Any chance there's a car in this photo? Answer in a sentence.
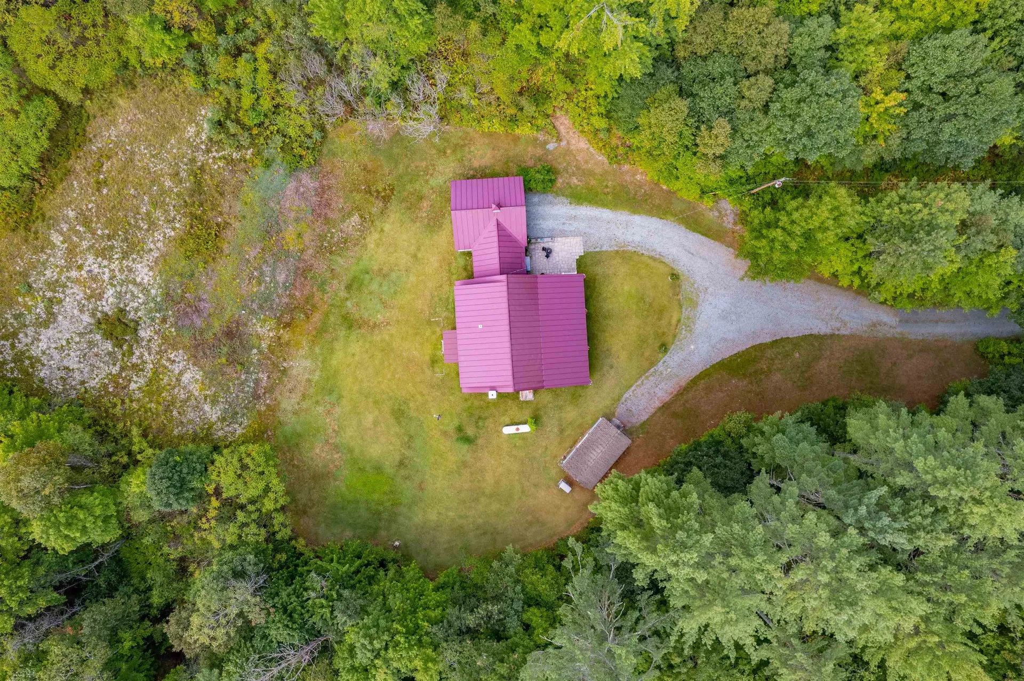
No, there appears to be no car in this shot.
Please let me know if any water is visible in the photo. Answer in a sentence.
No, water can't be seen anywhere here.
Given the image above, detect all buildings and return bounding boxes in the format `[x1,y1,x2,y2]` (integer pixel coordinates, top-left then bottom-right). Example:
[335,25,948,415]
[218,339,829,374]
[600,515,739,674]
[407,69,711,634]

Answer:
[560,415,631,488]
[442,176,592,400]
